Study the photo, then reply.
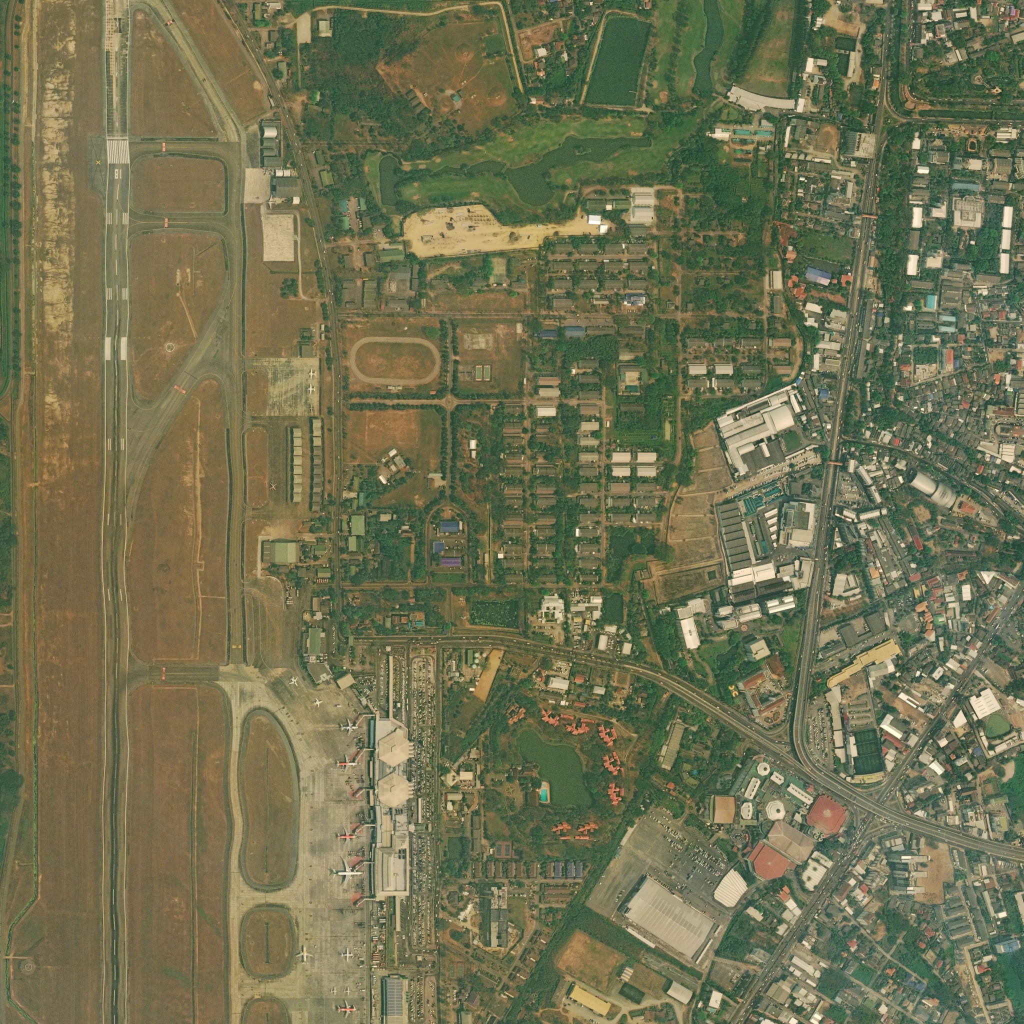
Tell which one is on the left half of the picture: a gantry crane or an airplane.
airplane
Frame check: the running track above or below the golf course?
below it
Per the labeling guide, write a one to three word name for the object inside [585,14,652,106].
pond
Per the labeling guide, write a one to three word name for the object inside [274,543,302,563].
hangar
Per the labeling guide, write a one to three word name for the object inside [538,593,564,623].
house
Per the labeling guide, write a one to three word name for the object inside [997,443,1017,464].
building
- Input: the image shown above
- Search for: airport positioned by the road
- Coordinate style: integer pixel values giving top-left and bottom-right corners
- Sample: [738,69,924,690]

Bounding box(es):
[88,0,369,1024]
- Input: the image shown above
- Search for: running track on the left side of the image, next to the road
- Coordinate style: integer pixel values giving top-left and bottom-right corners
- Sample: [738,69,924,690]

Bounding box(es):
[350,337,441,385]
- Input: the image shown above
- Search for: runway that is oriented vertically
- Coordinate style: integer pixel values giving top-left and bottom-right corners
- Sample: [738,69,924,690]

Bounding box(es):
[102,0,130,1024]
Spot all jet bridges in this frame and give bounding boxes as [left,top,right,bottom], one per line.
[354,898,375,909]
[352,748,373,764]
[353,824,374,836]
[351,862,373,872]
[353,714,375,728]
